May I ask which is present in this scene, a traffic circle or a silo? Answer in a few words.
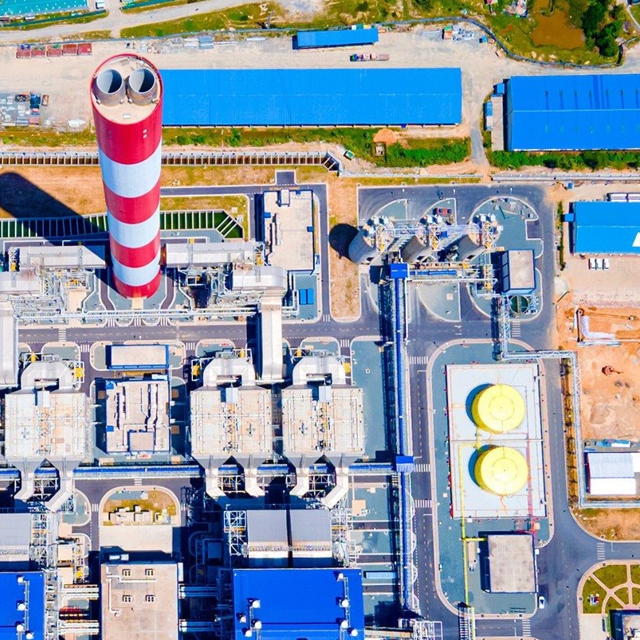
silo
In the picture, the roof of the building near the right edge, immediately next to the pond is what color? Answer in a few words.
blue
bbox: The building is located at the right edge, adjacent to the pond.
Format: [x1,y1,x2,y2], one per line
[501,74,640,158]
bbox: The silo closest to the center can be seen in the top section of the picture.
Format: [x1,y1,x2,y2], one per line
[348,215,395,269]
